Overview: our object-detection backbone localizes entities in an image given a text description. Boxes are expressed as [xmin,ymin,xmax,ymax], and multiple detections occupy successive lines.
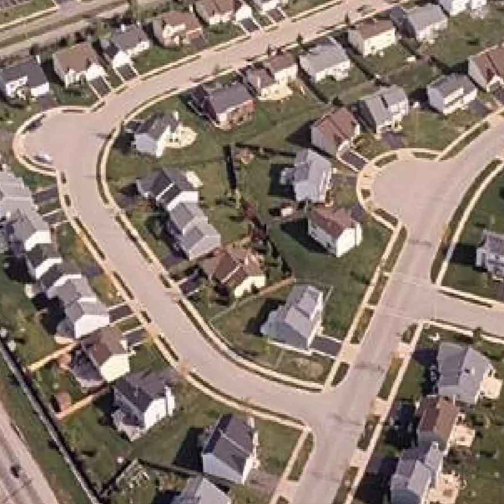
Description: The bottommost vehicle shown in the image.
[9,461,24,481]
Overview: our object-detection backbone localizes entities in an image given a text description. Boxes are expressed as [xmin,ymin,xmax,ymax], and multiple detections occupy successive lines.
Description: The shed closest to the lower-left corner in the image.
[50,388,73,411]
